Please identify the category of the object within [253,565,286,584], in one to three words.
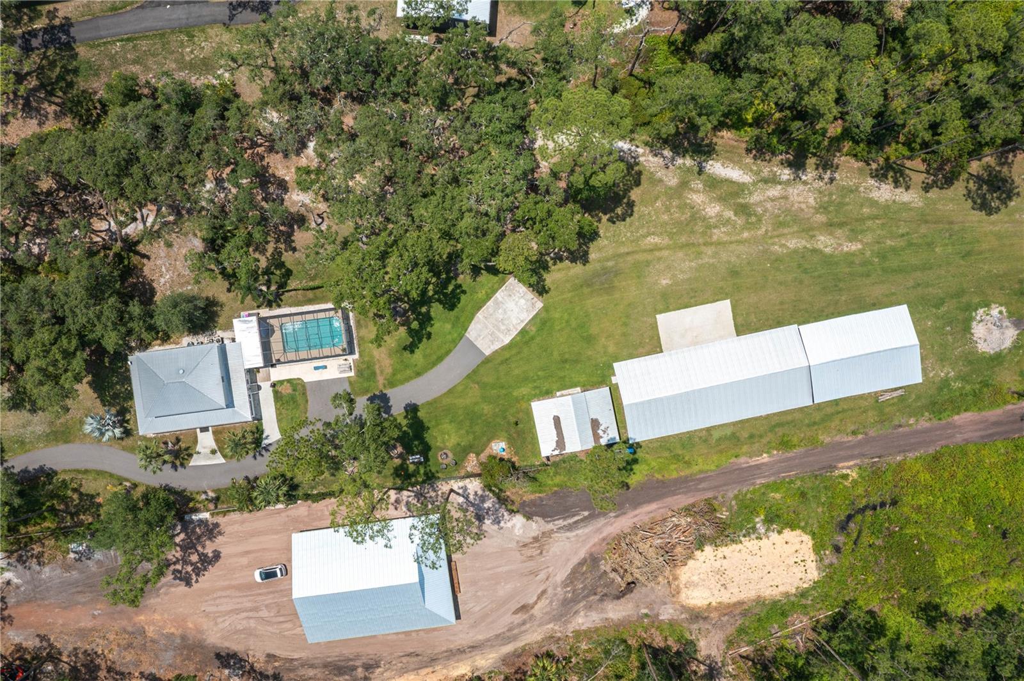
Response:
car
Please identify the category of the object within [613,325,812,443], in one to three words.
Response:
barn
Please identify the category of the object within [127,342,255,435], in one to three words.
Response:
house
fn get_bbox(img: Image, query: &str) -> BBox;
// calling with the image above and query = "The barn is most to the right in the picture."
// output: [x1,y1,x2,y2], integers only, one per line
[797,304,922,403]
